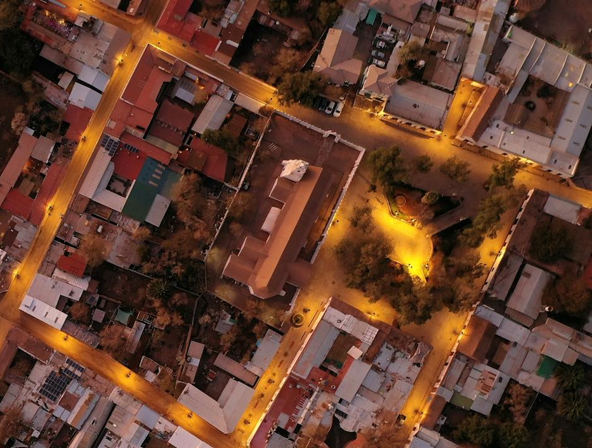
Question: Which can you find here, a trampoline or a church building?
church building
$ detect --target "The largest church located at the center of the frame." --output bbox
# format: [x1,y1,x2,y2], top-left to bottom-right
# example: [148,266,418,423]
[218,162,338,300]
